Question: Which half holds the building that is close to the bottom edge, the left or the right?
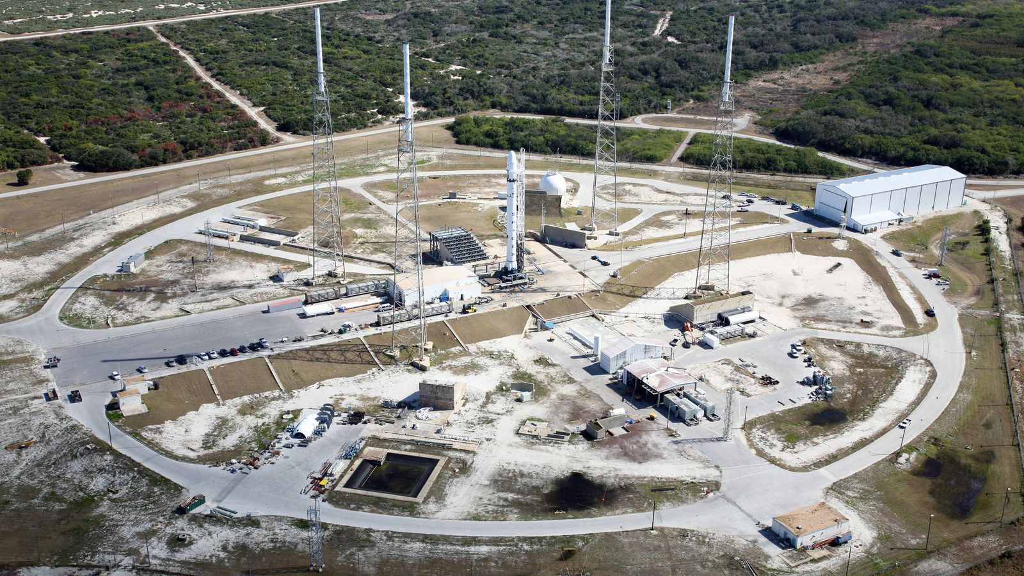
right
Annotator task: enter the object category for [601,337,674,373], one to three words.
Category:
building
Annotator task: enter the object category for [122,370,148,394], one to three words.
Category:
building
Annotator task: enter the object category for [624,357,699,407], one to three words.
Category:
shed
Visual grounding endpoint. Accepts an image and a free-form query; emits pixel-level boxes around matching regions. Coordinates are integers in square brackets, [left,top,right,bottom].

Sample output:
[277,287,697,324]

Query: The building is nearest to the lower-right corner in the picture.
[775,501,851,548]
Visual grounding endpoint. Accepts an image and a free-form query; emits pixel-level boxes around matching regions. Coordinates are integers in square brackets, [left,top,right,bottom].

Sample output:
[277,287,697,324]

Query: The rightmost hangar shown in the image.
[818,164,968,233]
